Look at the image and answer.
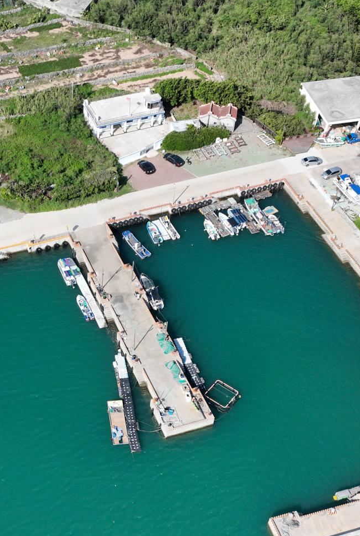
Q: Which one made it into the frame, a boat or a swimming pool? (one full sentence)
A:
I can see a boat in this picture.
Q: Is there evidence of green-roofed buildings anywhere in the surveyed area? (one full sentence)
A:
No, this view has no green-roofed building in it.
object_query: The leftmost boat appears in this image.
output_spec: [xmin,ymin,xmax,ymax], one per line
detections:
[54,251,80,286]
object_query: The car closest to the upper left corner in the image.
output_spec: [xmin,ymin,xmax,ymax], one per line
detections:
[136,157,156,173]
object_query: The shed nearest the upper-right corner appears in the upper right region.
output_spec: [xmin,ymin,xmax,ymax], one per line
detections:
[299,76,360,137]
